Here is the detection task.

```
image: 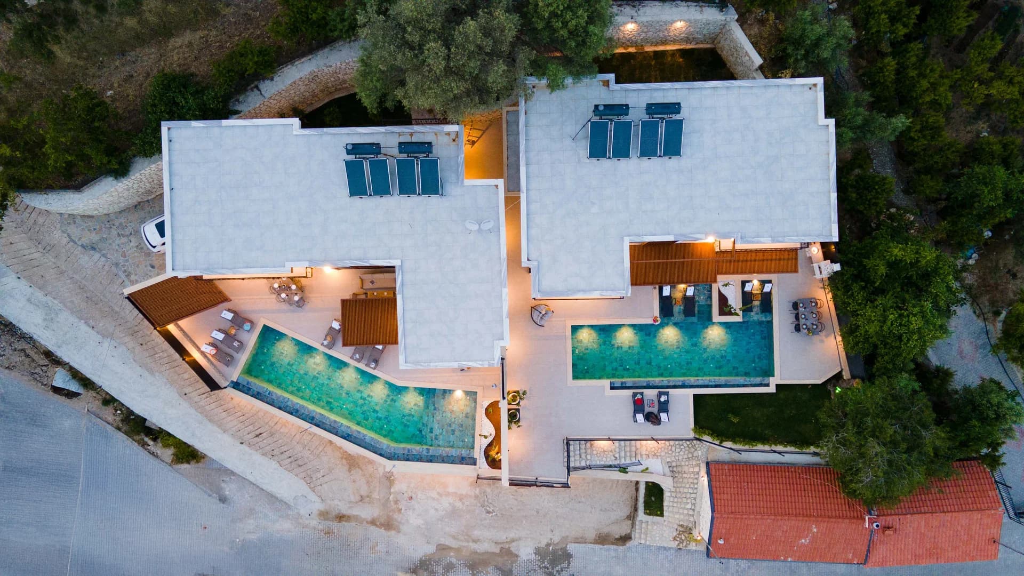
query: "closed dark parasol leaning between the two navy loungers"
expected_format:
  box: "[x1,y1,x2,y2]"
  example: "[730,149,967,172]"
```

[645,410,665,428]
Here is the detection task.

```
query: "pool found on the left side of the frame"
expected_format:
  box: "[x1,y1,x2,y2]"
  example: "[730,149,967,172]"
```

[221,318,483,477]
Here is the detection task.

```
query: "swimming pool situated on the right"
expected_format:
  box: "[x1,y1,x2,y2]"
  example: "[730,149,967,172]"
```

[566,274,781,393]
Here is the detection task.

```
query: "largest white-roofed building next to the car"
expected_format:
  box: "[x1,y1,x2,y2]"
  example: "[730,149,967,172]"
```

[162,118,510,369]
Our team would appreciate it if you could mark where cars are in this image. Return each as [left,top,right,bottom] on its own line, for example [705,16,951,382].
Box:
[133,212,166,253]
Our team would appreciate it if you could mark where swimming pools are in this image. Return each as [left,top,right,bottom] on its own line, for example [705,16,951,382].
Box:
[221,318,483,477]
[566,274,781,393]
